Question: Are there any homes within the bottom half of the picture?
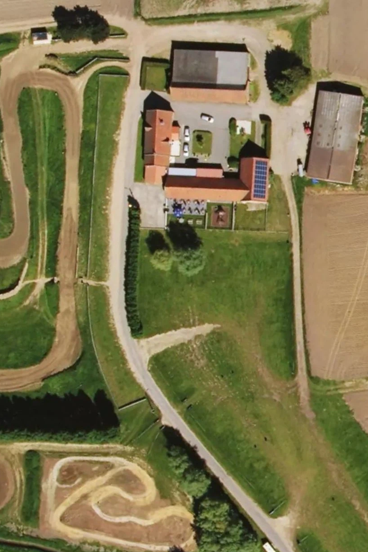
No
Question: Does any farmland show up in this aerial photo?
Yes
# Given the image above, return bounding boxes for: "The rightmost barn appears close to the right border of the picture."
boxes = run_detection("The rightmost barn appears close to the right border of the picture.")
[305,90,365,185]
